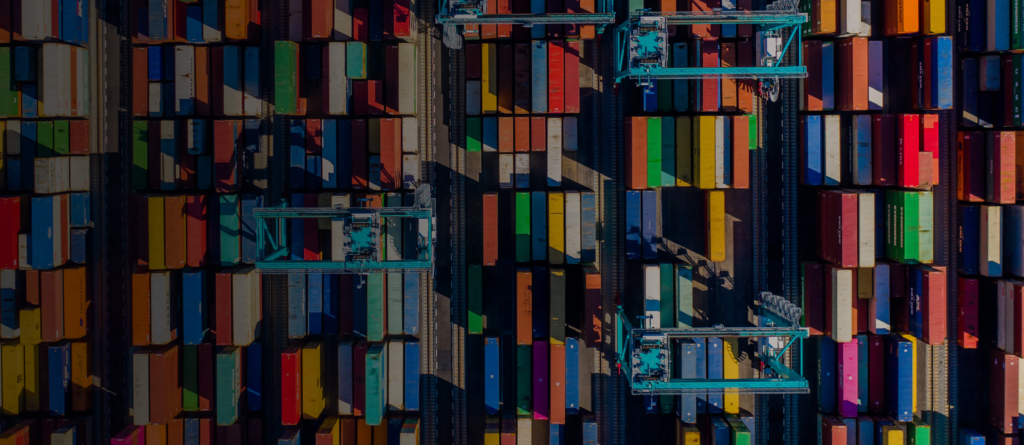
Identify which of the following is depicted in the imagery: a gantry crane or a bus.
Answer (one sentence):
There is a gantry crane in the scene.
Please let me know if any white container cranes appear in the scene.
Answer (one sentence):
No, I find no white container crane anywhere in the image.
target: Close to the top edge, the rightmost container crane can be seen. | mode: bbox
[611,0,812,105]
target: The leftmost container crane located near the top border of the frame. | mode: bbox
[433,0,616,56]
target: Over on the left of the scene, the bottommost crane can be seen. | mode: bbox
[253,181,439,293]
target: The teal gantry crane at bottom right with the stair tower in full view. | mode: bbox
[613,285,815,413]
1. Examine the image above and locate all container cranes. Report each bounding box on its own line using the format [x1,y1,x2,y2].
[613,285,815,413]
[611,0,812,105]
[253,181,439,293]
[433,0,616,56]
